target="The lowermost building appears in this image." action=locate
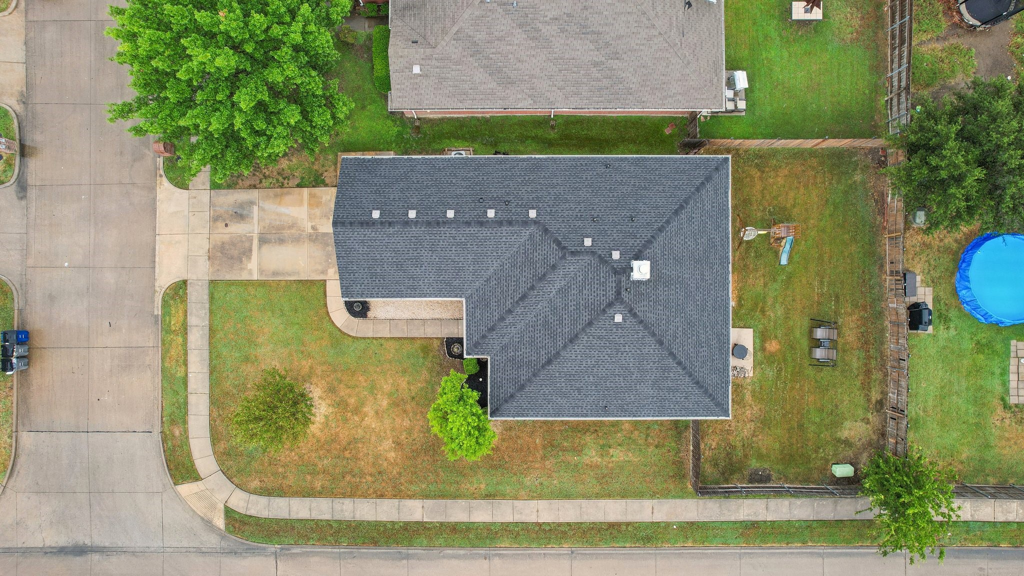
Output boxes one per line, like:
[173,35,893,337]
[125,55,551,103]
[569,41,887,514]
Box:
[332,154,733,421]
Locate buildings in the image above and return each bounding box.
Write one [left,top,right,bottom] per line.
[263,0,726,122]
[332,154,733,421]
